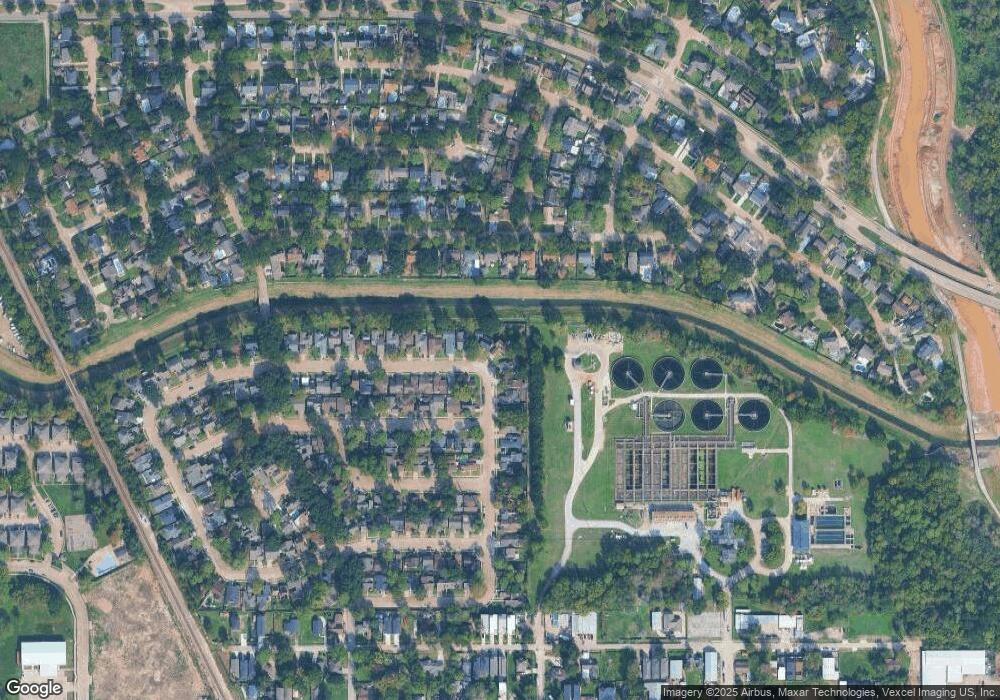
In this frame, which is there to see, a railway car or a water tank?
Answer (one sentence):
It is a water tank that can be seen here.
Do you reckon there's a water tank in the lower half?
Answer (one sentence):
Yes, there is a water tank in the lower half.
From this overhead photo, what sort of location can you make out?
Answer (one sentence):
The picture captures a residential area.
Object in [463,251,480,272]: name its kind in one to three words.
house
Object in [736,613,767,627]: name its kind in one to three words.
building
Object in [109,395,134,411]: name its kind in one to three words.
house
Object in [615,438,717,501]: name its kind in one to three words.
water tank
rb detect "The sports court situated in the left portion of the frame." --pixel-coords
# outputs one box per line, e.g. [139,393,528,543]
[65,514,97,552]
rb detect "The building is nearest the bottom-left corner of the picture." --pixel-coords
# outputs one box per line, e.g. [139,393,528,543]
[20,642,66,677]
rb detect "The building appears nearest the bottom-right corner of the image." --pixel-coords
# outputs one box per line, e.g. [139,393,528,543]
[922,650,986,700]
